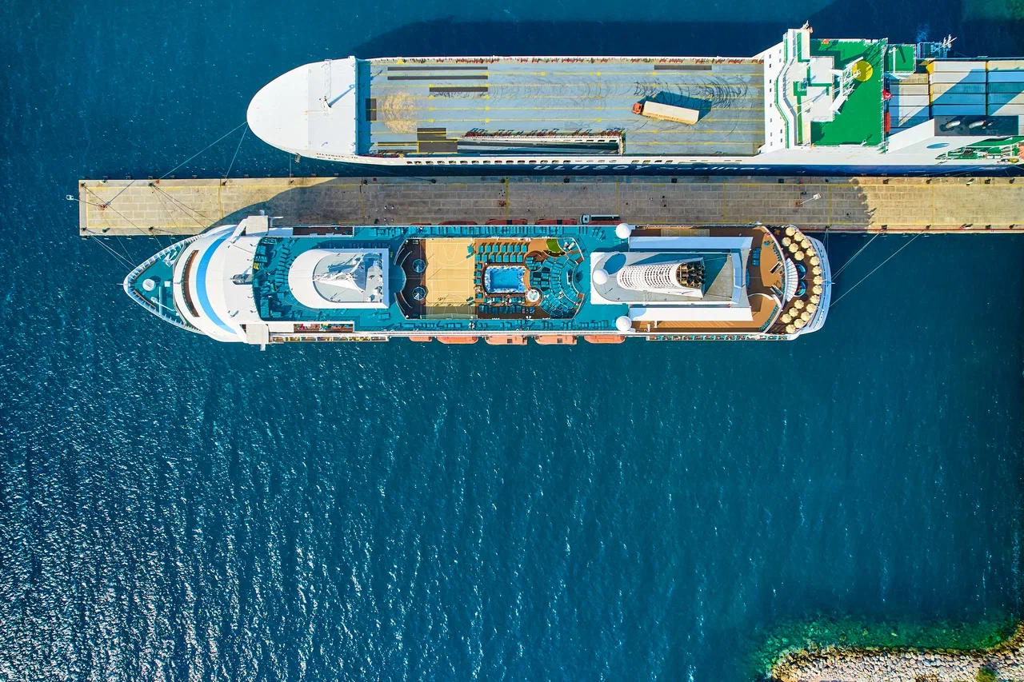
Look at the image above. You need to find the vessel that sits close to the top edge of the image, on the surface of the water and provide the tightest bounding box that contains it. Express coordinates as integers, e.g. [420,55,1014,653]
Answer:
[248,14,1024,176]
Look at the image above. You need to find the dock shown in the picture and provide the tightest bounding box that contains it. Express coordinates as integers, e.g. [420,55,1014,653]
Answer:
[79,175,1024,238]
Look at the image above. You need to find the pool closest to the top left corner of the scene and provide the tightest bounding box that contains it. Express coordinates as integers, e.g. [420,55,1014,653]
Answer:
[482,263,529,296]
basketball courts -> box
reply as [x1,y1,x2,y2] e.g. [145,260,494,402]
[426,241,475,315]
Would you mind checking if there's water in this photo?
Yes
